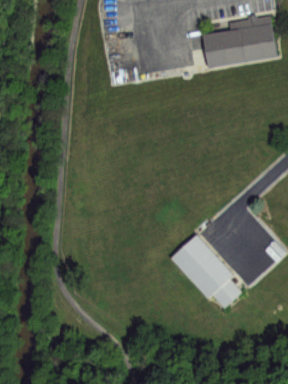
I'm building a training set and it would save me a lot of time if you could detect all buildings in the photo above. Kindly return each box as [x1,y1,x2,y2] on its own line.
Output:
[172,234,243,306]
[203,12,278,68]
